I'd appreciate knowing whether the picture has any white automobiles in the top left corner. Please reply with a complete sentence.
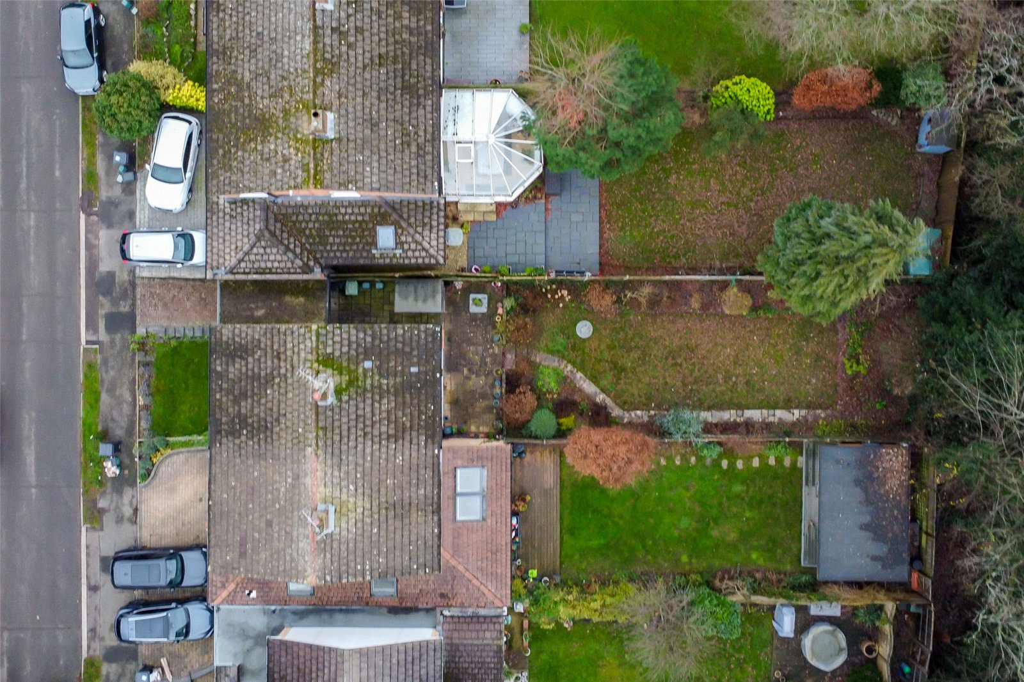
Yes, you'll find a white automobile in the top left corner.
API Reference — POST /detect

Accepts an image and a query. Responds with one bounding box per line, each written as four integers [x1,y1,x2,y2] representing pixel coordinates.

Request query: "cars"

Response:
[110,543,208,595]
[55,1,108,98]
[115,594,215,649]
[120,225,208,273]
[146,112,204,214]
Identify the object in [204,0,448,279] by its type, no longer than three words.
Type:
house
